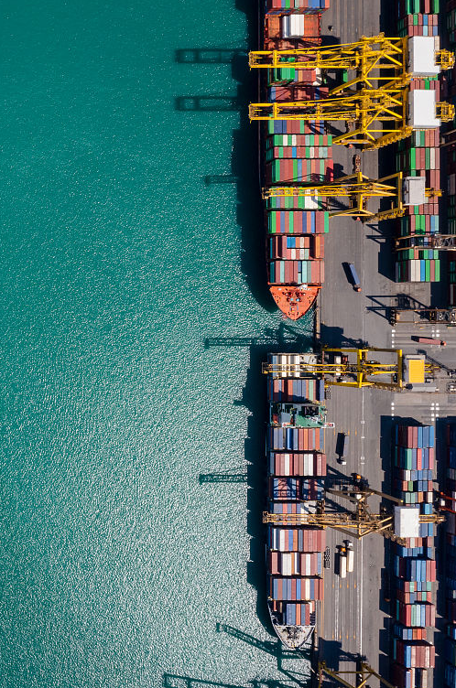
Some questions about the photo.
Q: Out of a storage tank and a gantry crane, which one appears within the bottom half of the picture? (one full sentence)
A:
Looking within the bottom half of the picture, you will find a gantry crane.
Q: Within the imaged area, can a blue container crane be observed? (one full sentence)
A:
No, I can't see a single blue container crane in this photo.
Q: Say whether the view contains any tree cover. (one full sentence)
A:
No, the picture contains no tree cover.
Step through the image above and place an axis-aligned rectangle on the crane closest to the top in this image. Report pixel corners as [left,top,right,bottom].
[247,31,455,103]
